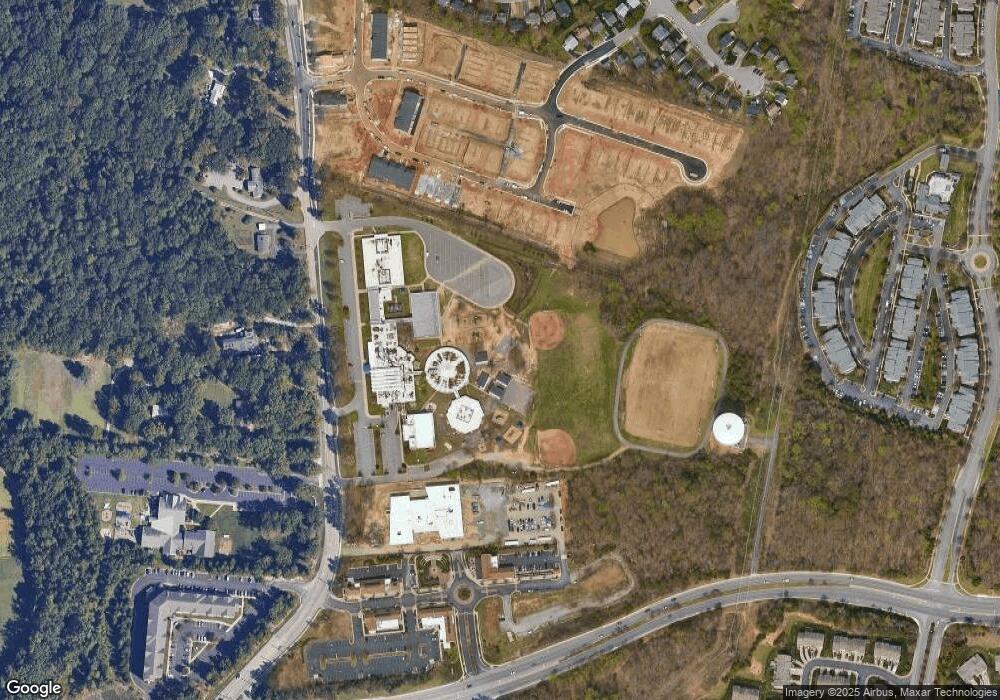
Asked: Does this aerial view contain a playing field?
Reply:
Yes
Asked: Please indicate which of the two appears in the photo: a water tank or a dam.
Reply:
water tank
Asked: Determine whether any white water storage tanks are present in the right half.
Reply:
Yes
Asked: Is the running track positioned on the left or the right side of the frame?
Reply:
right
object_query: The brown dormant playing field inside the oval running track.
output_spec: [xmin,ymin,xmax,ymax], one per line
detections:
[625,325,721,446]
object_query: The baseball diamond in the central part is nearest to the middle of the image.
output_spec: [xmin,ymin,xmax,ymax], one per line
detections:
[530,311,564,350]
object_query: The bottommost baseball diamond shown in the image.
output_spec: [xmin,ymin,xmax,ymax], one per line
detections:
[535,429,575,468]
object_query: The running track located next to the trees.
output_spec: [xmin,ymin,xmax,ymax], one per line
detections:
[613,318,729,456]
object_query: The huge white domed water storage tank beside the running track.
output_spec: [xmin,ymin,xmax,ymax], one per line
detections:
[713,414,746,446]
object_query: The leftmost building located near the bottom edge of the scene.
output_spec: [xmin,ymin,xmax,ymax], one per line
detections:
[144,590,241,683]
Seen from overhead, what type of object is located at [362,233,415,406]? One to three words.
building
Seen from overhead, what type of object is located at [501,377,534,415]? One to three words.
sports court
